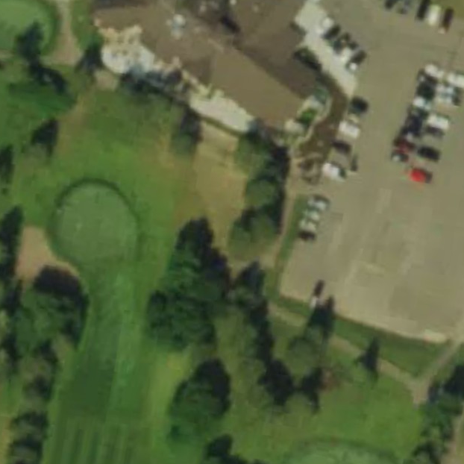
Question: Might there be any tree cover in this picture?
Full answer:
Yes, the picture does contain tree cover.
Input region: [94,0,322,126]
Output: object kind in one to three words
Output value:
building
